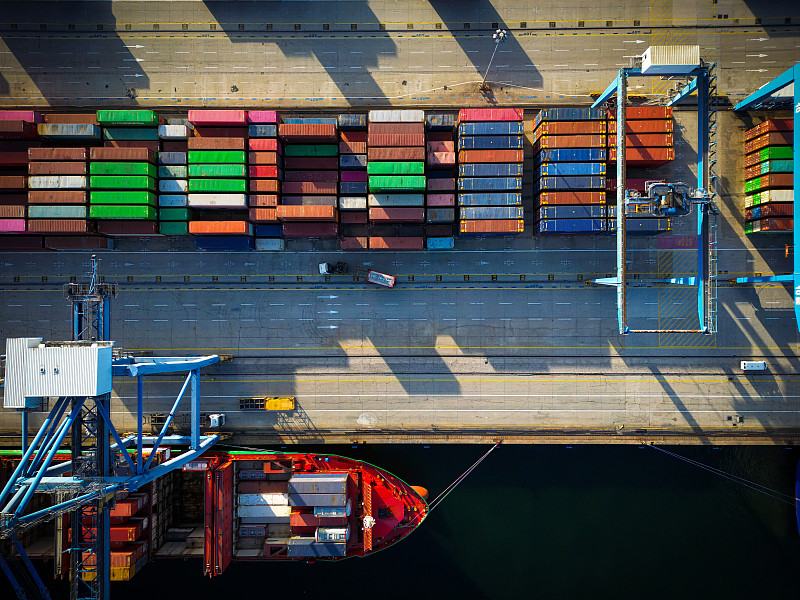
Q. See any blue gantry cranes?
Yes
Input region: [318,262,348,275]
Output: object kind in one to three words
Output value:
vehicle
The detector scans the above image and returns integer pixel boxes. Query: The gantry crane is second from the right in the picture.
[578,45,722,336]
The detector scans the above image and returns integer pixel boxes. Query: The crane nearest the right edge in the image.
[729,66,800,333]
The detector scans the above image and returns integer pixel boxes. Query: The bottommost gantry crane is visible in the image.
[0,252,241,600]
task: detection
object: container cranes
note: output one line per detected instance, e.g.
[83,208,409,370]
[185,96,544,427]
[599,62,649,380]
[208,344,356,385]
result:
[729,66,800,333]
[578,45,722,336]
[0,252,241,600]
